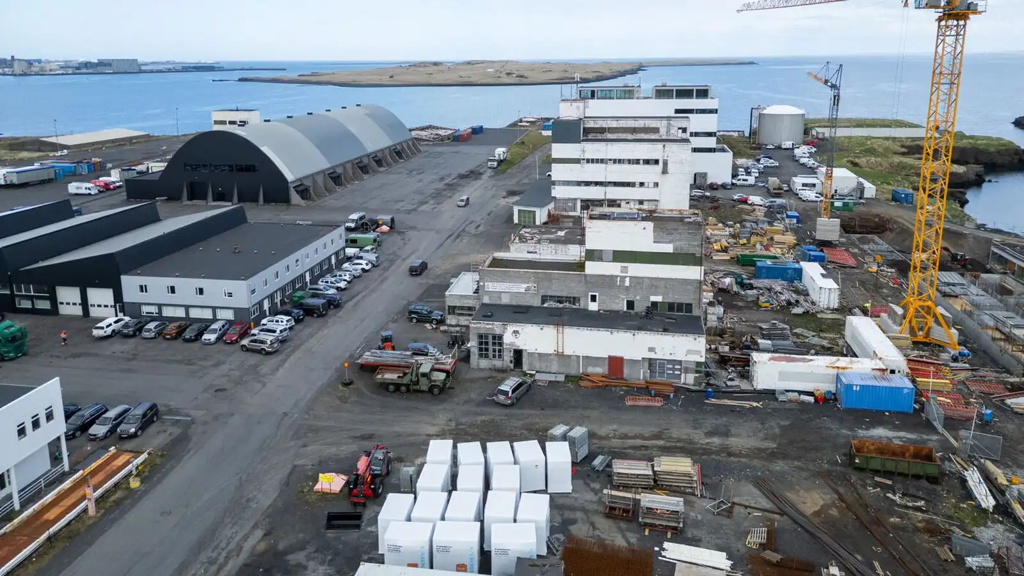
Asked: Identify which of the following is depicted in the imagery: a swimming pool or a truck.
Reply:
truck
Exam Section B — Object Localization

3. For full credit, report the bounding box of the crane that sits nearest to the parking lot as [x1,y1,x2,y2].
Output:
[803,51,851,246]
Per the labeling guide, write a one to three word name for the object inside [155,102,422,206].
hangar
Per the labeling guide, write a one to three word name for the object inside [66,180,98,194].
camper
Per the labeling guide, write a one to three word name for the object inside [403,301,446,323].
car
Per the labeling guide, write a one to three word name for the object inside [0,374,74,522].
building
